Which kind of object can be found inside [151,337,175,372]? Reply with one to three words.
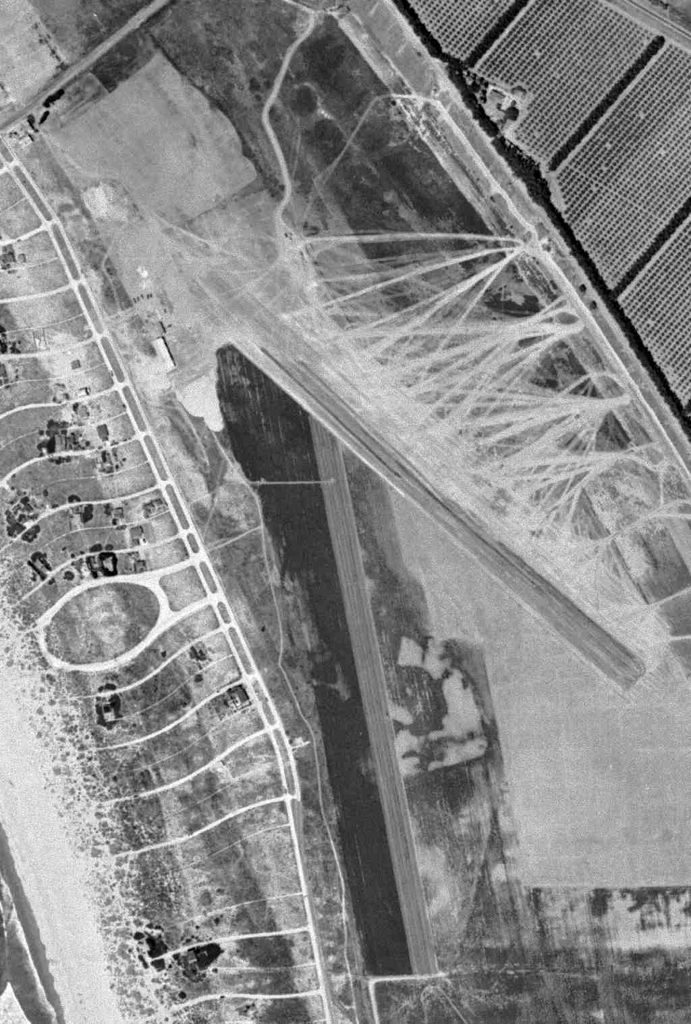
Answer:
hangar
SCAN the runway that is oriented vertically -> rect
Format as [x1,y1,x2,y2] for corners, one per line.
[304,405,439,974]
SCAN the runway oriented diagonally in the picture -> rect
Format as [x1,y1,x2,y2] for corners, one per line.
[238,343,645,688]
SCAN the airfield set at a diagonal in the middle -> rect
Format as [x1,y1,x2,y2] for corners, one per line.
[60,165,667,974]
